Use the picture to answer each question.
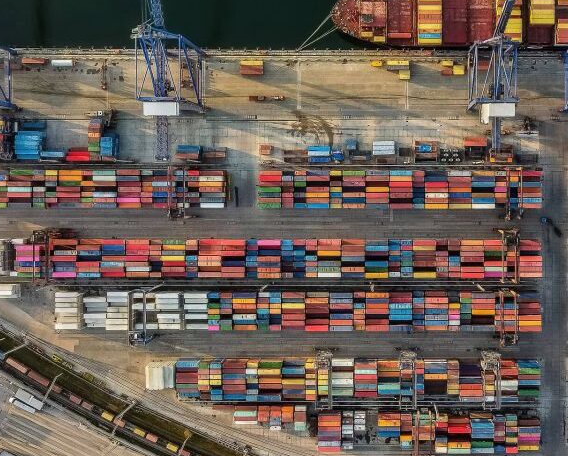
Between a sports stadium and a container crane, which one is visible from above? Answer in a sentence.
It is a container crane that can be seen here.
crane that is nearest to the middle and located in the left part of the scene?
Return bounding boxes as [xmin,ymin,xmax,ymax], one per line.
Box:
[166,165,200,220]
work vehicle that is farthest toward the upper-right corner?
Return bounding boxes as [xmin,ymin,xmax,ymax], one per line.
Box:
[524,119,537,141]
